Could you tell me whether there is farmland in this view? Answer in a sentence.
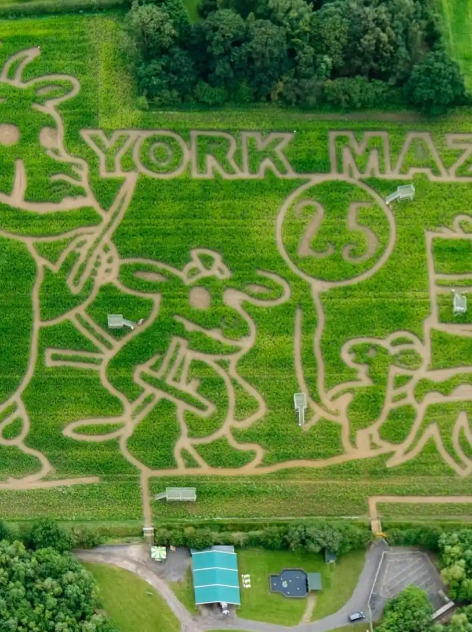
Yes, the picture does contain farmland.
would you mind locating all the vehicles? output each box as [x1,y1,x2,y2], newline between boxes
[348,611,365,621]
[222,604,228,614]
